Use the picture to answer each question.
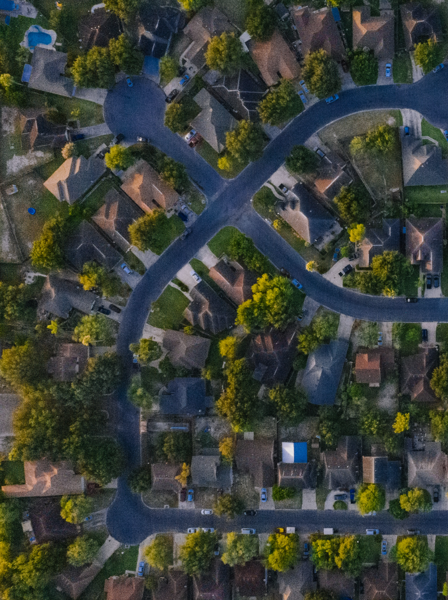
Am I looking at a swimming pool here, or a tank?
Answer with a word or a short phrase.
swimming pool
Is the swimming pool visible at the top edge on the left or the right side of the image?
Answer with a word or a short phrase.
left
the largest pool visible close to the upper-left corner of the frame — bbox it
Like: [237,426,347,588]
[21,24,56,48]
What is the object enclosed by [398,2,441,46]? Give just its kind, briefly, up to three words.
house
